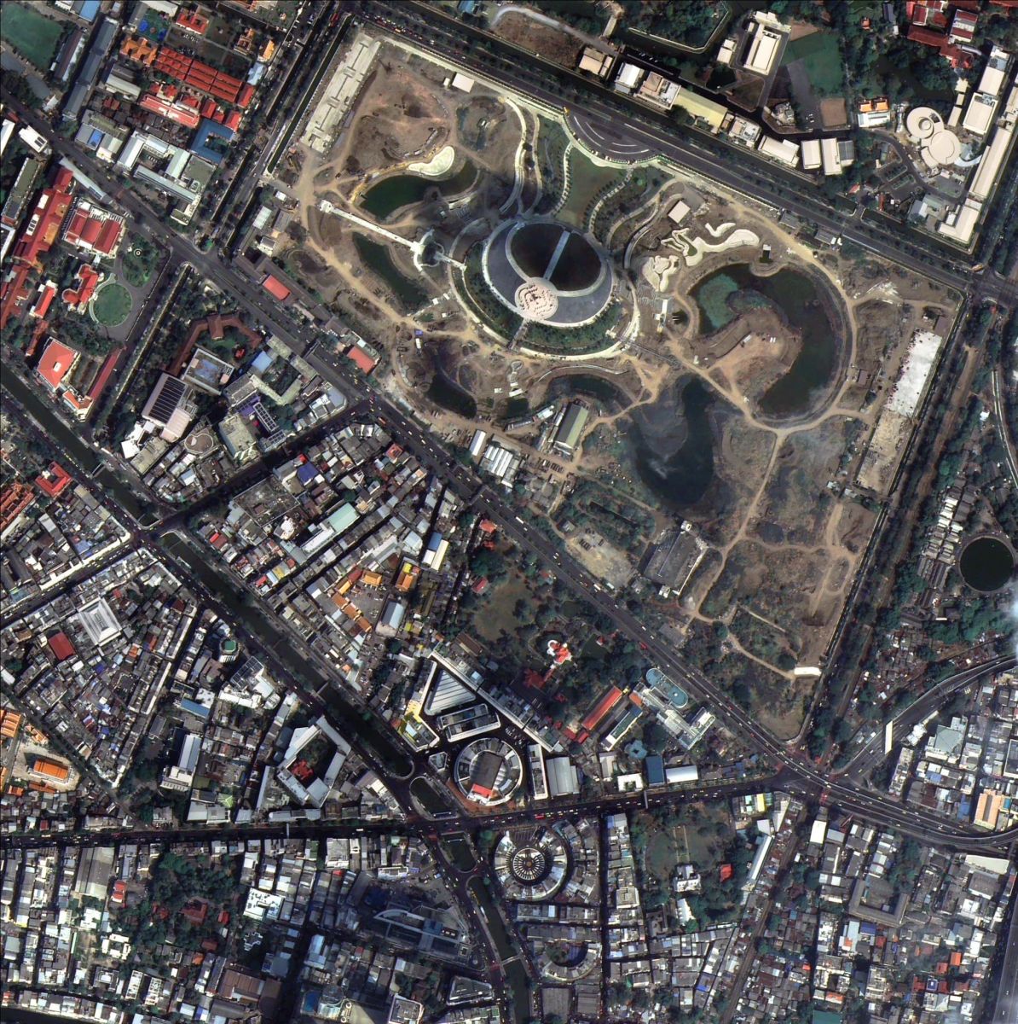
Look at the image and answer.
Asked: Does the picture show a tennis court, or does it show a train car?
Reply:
tennis court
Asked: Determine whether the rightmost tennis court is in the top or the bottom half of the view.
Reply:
top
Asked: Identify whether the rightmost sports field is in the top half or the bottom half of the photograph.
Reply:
top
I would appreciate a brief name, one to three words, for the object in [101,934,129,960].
house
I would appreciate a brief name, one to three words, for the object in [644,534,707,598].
building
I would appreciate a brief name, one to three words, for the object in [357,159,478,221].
pond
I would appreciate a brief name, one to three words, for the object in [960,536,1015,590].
pond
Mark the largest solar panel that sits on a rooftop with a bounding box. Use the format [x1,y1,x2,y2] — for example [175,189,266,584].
[151,378,186,419]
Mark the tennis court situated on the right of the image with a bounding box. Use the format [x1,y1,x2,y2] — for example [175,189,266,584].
[822,98,847,127]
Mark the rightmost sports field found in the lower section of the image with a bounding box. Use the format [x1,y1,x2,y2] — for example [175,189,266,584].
[644,823,721,875]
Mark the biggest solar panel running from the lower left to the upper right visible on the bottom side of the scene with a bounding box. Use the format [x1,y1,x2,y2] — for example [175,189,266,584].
[234,660,260,688]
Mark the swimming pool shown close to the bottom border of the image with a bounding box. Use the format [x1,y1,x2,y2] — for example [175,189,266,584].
[303,990,320,1014]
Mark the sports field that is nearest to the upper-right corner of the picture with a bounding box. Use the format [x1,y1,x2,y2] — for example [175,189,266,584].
[786,30,845,92]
